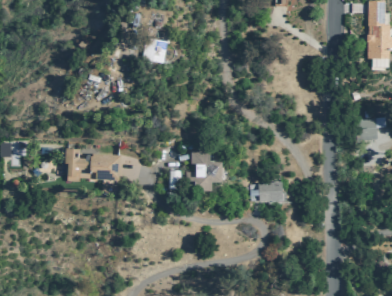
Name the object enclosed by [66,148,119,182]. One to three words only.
house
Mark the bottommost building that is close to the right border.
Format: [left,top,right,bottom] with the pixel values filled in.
[360,118,386,141]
